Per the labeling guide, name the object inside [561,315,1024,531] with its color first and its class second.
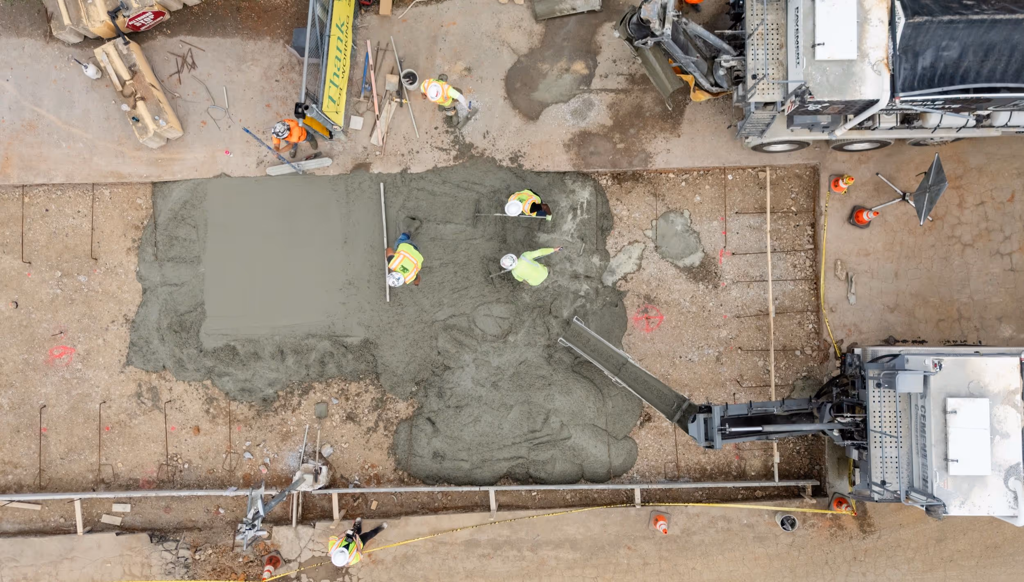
white truck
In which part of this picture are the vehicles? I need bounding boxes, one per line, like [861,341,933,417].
[561,315,1024,531]
[613,0,1024,151]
